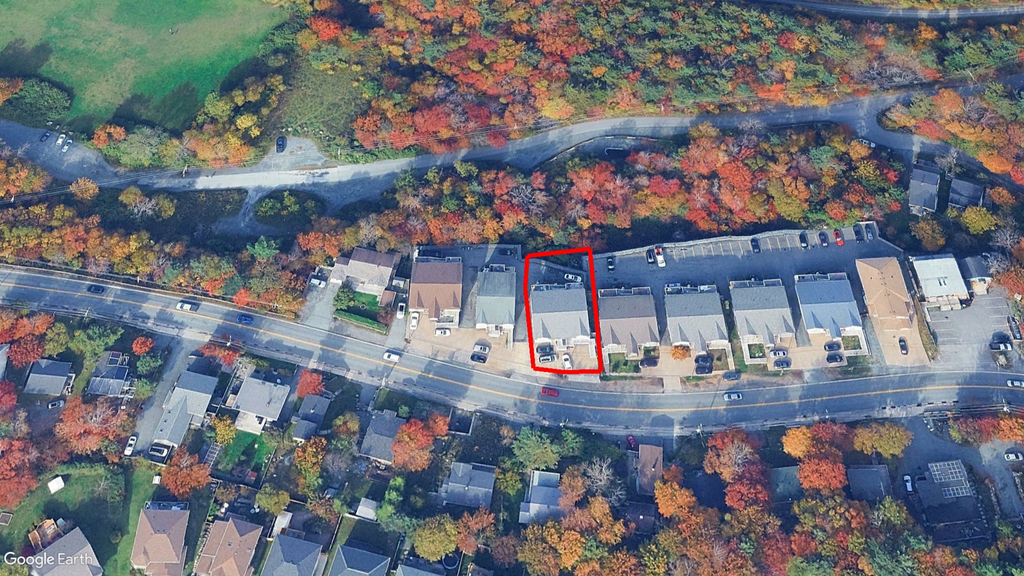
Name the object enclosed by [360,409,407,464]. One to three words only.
house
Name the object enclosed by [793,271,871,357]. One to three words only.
house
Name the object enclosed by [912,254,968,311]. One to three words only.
building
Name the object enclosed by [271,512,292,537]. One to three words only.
shed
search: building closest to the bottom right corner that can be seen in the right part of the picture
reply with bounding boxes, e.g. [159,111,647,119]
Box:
[915,460,988,542]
